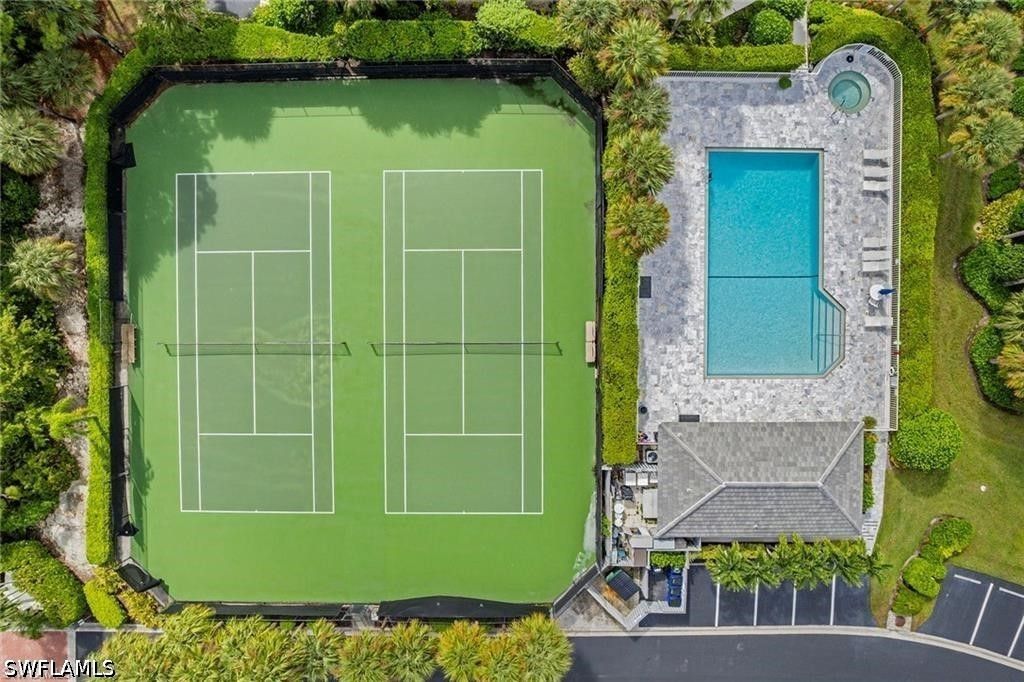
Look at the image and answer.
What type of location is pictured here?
sports ground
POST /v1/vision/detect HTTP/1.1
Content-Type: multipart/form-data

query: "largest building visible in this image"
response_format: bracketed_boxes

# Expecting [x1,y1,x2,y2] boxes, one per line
[657,420,866,542]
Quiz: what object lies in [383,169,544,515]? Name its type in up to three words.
tennis court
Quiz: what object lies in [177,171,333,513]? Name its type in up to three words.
tennis court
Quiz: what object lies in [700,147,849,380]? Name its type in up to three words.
swimming pool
